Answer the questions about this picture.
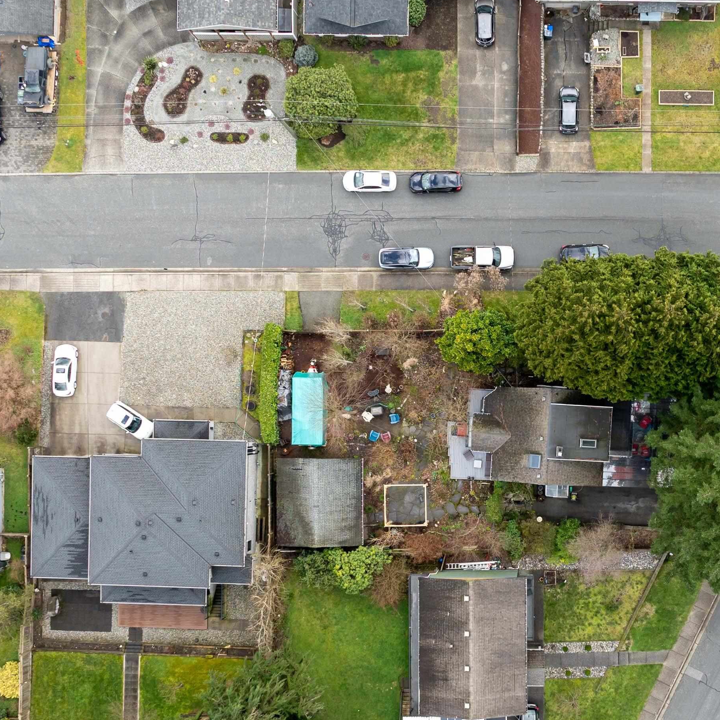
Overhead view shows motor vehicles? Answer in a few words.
Yes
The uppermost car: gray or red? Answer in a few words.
gray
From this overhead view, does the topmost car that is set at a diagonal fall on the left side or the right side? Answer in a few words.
left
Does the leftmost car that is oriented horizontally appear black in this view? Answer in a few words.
No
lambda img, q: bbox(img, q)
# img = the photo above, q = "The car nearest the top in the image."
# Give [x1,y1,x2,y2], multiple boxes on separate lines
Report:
[472,0,497,51]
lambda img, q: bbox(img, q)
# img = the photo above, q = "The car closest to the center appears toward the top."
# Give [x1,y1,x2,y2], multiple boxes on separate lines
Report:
[379,245,434,270]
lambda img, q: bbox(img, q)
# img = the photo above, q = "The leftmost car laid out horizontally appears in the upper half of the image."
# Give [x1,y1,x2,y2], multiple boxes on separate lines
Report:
[343,168,398,194]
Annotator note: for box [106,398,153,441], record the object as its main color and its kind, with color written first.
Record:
white car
